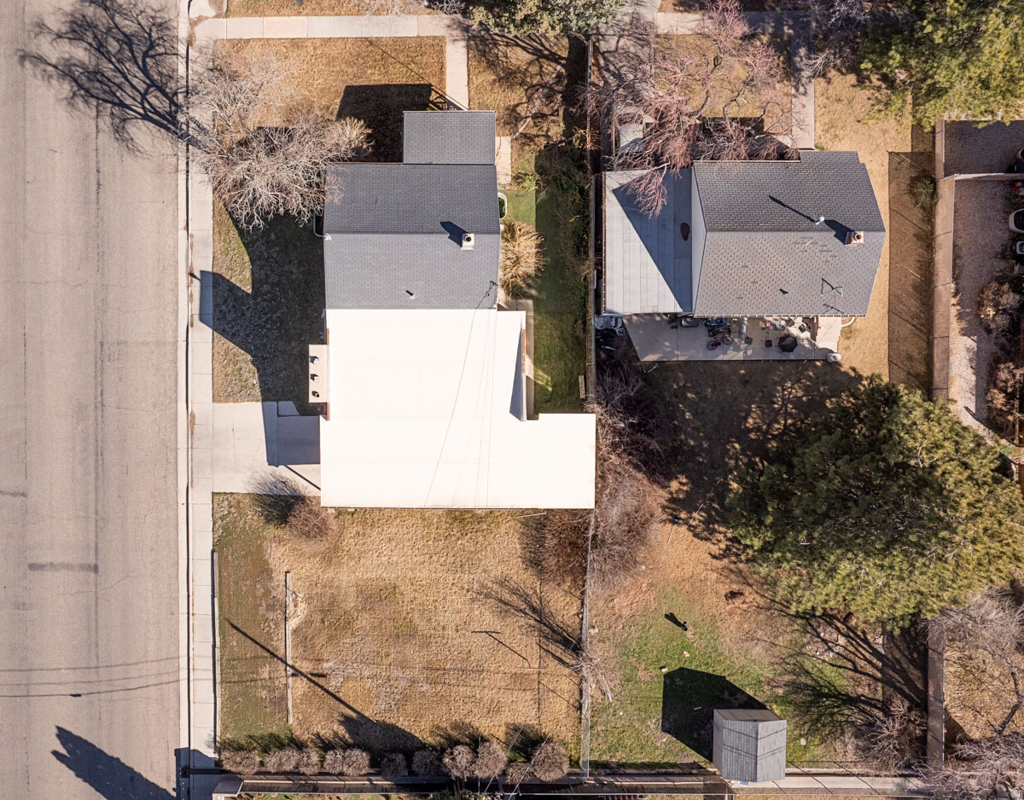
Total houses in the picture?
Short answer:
2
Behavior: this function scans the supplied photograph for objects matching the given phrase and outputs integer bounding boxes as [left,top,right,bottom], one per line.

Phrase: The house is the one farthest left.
[309,110,595,510]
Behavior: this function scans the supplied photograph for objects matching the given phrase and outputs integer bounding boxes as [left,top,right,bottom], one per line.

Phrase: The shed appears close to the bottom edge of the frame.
[714,709,786,780]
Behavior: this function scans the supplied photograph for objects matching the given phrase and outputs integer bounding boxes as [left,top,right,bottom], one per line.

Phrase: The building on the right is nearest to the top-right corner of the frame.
[597,152,887,318]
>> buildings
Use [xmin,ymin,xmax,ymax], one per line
[309,110,595,510]
[714,709,786,780]
[597,152,887,318]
